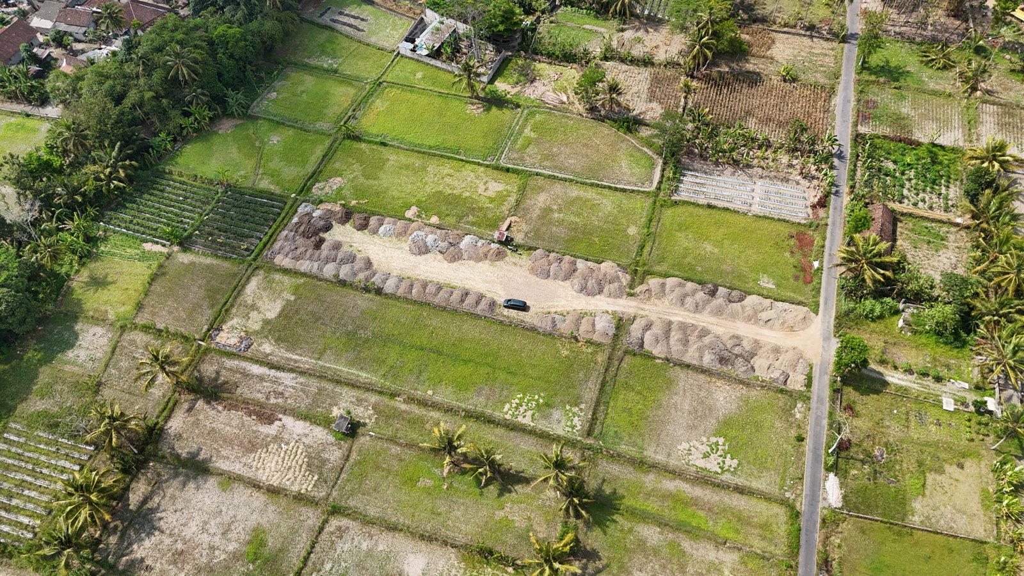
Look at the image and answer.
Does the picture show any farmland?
Yes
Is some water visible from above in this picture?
No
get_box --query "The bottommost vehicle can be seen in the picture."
[504,298,527,311]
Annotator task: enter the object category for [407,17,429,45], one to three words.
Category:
shed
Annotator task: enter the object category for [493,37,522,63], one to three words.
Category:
building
